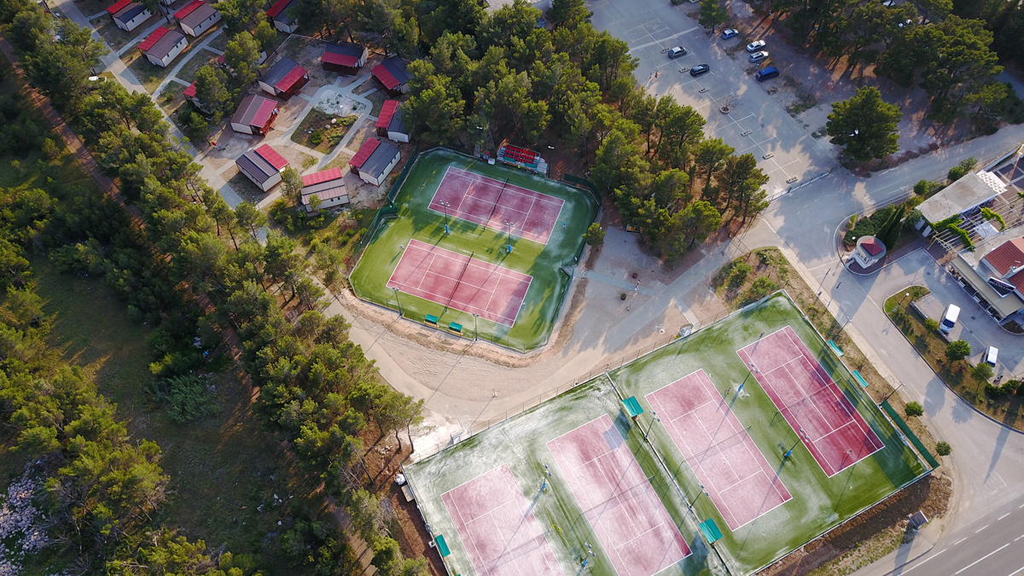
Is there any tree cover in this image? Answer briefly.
Yes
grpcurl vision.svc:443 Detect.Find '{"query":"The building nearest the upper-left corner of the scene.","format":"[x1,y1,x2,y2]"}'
[106,0,156,28]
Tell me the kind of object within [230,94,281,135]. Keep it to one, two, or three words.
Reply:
building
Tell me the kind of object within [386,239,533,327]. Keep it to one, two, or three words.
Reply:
tennis court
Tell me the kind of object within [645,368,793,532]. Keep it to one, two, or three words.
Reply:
tennis court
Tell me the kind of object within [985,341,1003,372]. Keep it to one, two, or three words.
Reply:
vehicle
